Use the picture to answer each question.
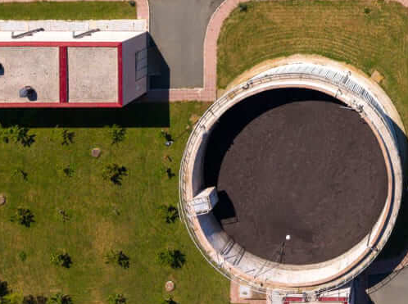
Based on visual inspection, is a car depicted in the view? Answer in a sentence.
No, no car is visible in the view.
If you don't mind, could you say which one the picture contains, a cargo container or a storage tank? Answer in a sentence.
I can see a storage tank in this picture.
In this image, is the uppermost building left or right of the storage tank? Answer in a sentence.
The uppermost building is to the left of the storage tank.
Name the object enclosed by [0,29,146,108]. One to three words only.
building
